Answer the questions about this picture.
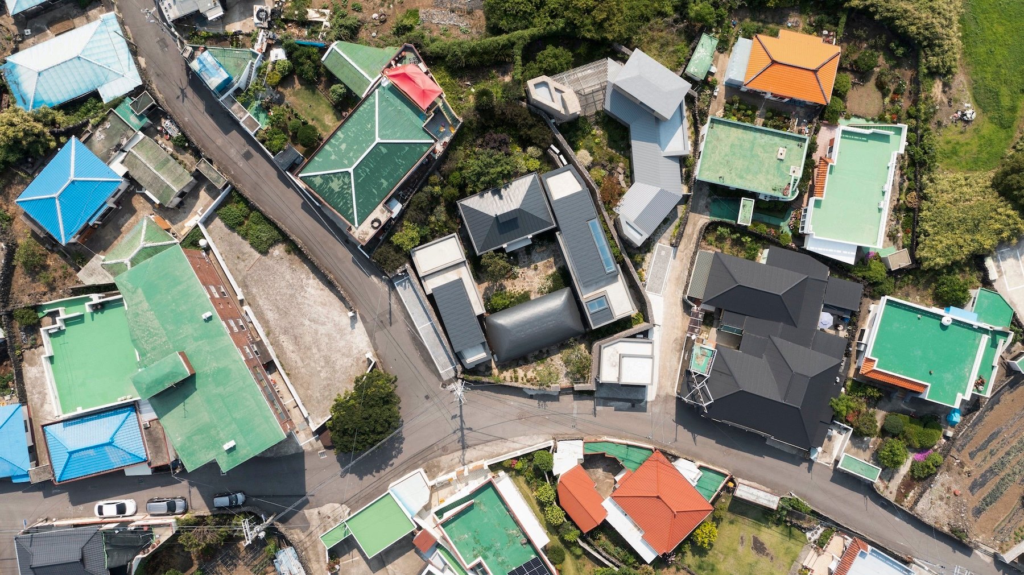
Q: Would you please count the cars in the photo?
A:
three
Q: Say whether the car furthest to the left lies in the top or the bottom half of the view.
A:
bottom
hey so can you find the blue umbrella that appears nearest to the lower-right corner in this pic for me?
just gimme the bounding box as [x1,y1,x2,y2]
[945,410,960,424]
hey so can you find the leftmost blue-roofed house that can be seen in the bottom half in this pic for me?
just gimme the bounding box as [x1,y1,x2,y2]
[0,403,42,476]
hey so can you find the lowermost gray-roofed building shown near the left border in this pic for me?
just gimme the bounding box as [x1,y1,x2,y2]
[13,523,120,575]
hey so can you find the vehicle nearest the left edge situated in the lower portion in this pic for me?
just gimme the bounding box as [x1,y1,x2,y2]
[94,496,139,517]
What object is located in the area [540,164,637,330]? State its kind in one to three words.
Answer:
house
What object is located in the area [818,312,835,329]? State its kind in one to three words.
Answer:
umbrella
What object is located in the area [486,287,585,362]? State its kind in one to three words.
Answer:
building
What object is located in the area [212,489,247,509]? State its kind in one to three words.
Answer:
car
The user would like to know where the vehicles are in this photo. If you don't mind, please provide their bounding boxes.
[94,496,139,517]
[145,494,190,516]
[212,489,247,509]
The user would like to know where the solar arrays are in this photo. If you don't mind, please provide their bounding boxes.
[508,554,547,575]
